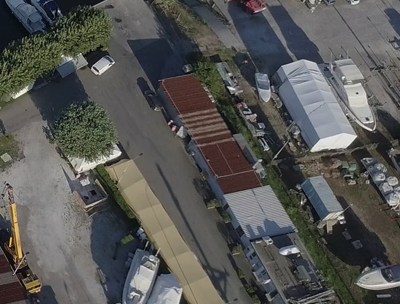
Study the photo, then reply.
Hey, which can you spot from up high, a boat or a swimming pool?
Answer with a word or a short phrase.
boat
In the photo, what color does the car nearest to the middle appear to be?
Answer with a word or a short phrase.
black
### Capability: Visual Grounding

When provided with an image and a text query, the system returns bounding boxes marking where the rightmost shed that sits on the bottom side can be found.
[295,176,343,226]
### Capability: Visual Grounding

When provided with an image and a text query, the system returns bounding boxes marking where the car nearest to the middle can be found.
[141,88,163,111]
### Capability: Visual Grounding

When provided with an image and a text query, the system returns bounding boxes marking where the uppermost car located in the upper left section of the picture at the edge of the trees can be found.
[89,57,116,76]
